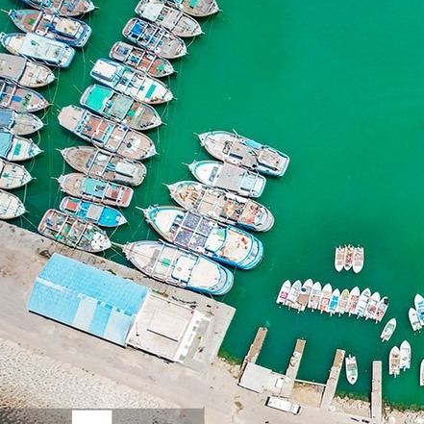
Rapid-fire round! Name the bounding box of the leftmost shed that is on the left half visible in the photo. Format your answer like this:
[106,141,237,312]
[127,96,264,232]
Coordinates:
[29,254,151,346]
